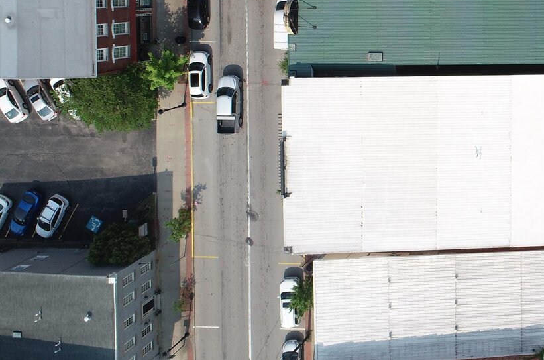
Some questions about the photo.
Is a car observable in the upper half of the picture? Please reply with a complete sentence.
Yes, looking in the upper half of the picture, one can make out a car.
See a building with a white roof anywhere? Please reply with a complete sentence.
Yes, the image includes a building with a white roof.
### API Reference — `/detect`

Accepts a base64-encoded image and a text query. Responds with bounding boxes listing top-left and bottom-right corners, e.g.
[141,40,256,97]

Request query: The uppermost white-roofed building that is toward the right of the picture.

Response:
[275,70,544,255]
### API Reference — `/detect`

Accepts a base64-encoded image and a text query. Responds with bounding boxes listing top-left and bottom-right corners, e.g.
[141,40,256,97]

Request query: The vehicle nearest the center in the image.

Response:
[217,75,245,134]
